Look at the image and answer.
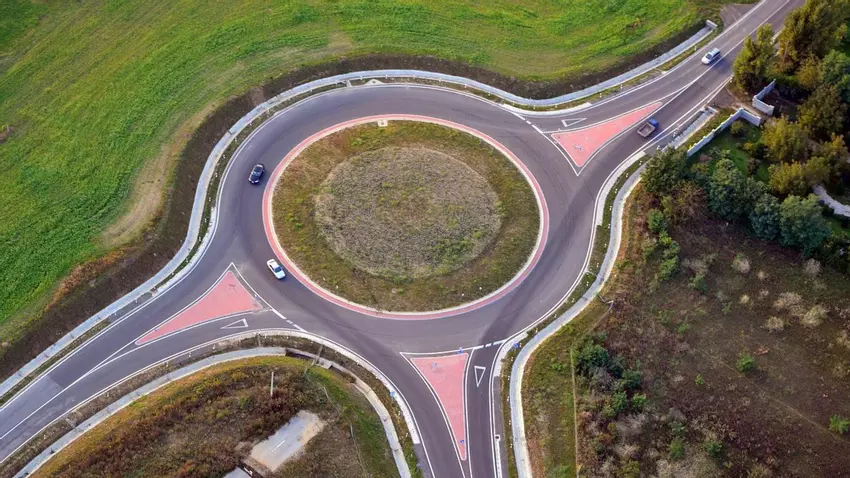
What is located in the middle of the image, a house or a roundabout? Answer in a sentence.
Visible in the middle of the image is a roundabout.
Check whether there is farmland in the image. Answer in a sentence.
Yes, farmland shows up in the scene.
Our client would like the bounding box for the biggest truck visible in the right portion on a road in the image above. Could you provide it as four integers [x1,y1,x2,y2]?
[636,115,662,138]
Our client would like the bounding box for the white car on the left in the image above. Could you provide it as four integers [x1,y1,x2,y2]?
[266,256,286,280]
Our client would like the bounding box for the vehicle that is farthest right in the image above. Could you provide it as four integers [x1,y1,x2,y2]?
[704,47,722,65]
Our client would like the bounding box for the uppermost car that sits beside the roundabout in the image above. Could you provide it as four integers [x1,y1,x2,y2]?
[251,162,266,181]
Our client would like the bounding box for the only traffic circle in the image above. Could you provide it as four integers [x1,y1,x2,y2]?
[262,115,550,320]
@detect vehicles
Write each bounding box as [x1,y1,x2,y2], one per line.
[704,47,722,65]
[251,162,266,181]
[266,256,286,280]
[636,115,662,138]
